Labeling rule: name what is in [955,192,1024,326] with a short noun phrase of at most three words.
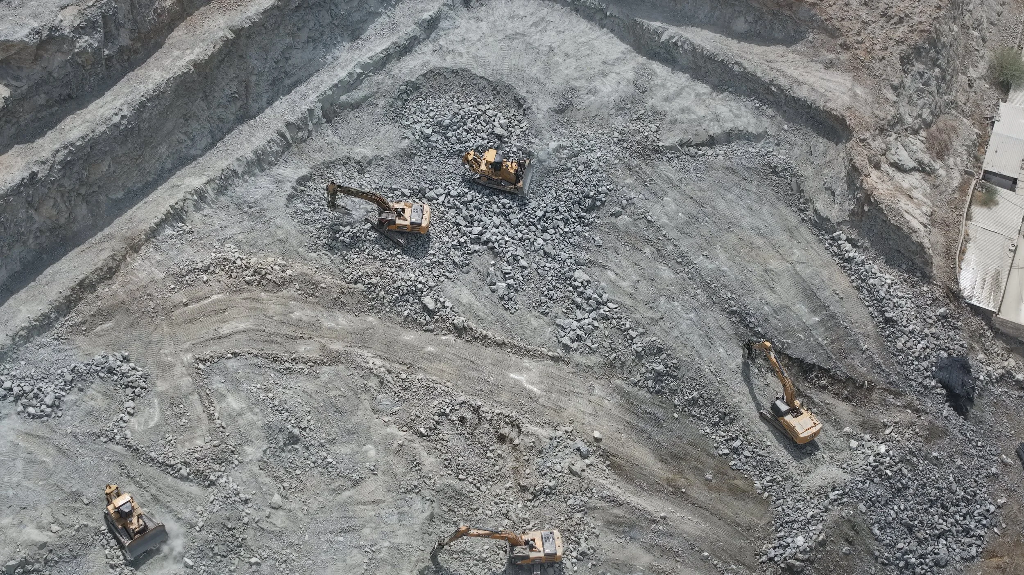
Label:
shed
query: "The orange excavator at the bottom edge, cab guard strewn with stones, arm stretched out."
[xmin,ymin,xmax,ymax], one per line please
[430,520,563,575]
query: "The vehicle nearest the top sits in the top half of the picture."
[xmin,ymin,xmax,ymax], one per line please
[462,147,533,198]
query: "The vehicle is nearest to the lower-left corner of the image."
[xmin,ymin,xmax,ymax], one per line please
[100,486,161,567]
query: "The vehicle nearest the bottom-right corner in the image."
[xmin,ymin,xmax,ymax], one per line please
[744,338,826,444]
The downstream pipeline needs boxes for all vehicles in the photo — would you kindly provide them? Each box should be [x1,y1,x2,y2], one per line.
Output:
[323,176,430,243]
[462,147,533,198]
[100,486,161,567]
[430,520,563,575]
[744,338,826,444]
